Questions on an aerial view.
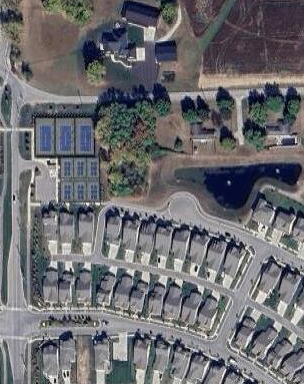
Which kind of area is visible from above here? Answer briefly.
residential area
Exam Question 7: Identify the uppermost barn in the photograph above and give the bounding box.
[120,0,161,29]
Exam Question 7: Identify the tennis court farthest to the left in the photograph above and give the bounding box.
[35,118,54,155]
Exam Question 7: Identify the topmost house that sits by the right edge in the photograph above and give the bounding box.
[264,122,294,136]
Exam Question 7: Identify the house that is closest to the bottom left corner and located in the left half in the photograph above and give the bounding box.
[42,341,58,373]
